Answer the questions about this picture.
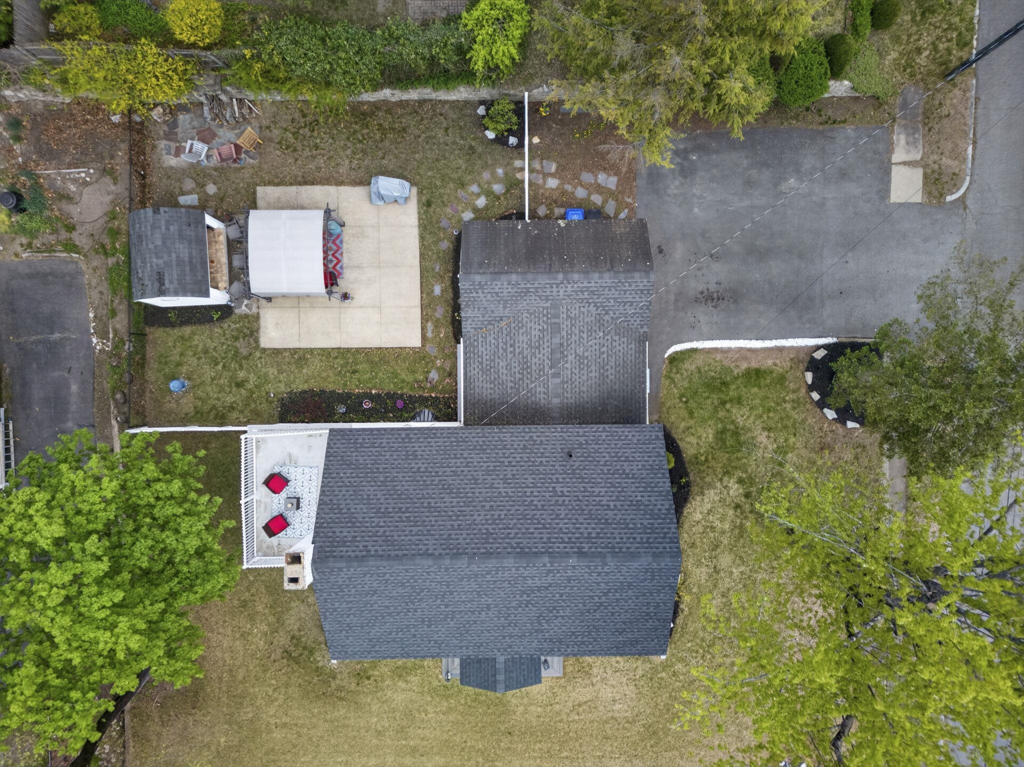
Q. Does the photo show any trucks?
No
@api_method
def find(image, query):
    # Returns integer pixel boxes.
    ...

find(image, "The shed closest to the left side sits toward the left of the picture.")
[130,207,231,306]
